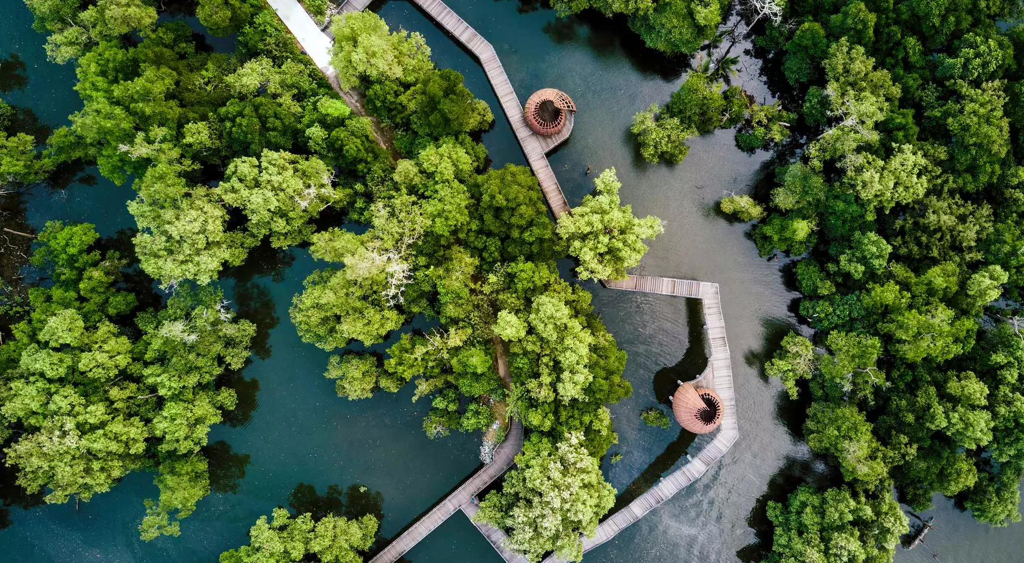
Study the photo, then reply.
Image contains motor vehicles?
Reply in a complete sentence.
No, I find no motor vehicle anywhere in the image.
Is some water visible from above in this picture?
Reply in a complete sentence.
Yes, there is water in the image.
